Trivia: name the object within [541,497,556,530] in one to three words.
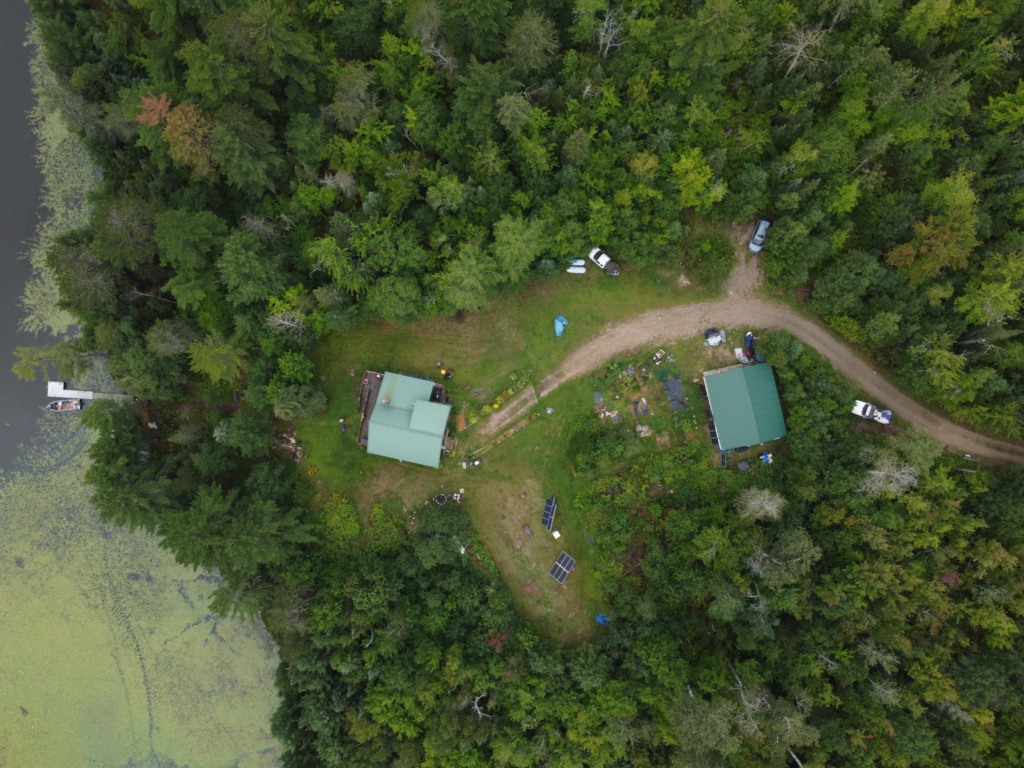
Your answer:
solar array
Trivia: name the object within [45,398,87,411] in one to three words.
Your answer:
boat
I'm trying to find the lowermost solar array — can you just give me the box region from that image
[547,552,575,582]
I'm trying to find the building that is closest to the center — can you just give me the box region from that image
[355,370,463,468]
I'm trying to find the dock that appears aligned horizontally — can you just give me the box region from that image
[45,382,136,403]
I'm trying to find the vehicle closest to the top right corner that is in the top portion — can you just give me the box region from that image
[746,218,772,255]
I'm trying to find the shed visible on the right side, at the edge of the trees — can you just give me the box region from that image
[696,362,786,450]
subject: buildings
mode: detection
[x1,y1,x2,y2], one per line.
[355,370,463,468]
[696,362,786,450]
